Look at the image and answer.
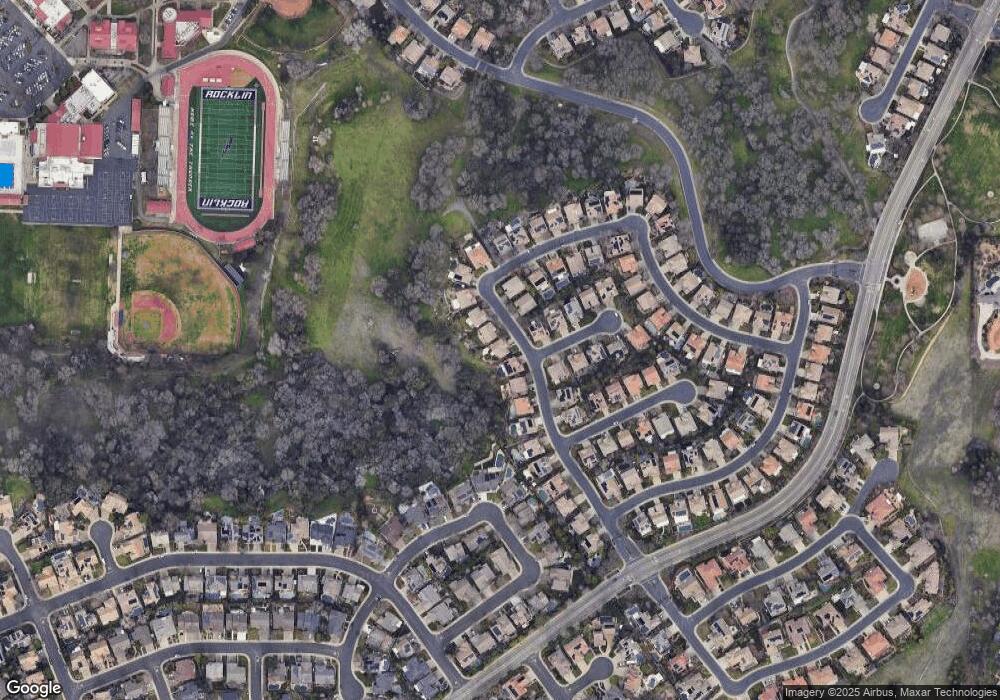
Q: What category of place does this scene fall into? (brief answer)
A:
residential area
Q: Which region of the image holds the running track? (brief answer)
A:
top left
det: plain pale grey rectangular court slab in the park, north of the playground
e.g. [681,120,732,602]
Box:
[918,218,949,244]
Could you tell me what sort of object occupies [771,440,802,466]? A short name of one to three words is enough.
house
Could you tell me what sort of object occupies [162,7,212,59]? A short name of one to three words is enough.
building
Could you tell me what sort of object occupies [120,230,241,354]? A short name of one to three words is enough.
baseball field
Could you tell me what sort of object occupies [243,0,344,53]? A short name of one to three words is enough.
baseball field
